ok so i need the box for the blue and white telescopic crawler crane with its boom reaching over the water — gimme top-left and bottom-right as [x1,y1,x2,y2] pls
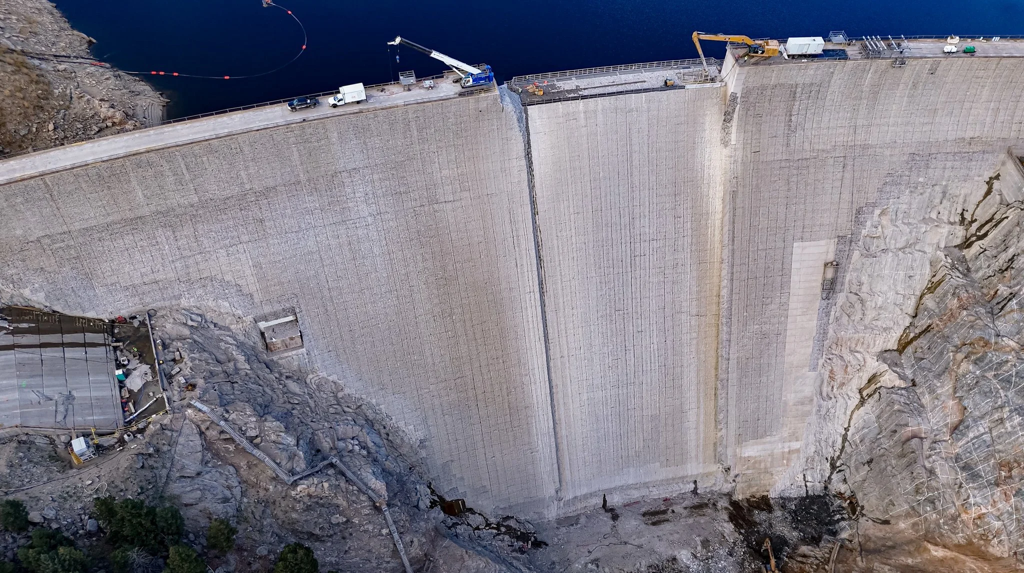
[388,38,495,90]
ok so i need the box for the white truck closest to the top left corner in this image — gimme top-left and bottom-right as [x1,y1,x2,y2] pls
[328,81,373,106]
